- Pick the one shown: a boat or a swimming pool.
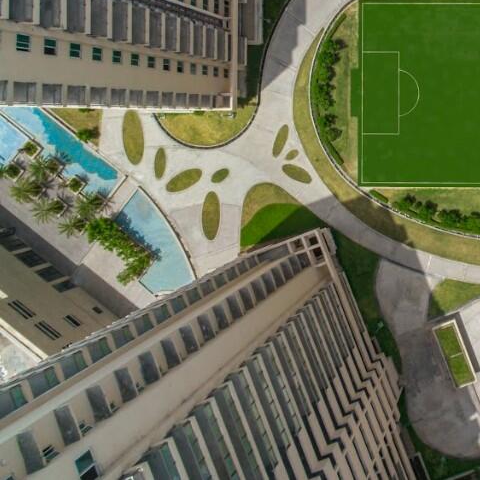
swimming pool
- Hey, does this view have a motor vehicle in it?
No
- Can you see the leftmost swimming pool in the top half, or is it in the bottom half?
top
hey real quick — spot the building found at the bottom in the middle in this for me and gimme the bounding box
[0,218,423,480]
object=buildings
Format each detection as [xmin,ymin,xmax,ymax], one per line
[0,0,266,111]
[0,218,423,480]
